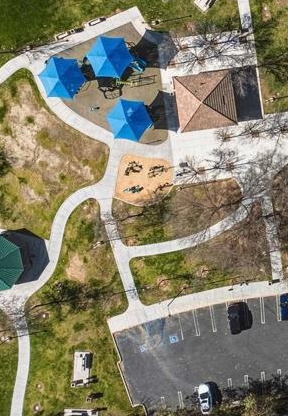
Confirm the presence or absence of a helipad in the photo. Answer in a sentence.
No, I can see no helipad in this picture.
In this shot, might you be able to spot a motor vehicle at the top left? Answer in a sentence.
No, no motor vehicle appears at the top left.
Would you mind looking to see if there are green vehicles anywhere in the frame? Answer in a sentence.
No, the picture doesn't show any green vehicle.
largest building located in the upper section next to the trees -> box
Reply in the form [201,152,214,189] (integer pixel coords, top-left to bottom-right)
[172,69,237,132]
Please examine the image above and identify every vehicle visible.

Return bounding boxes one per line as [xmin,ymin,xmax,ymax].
[225,303,242,337]
[195,385,212,416]
[277,294,288,323]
